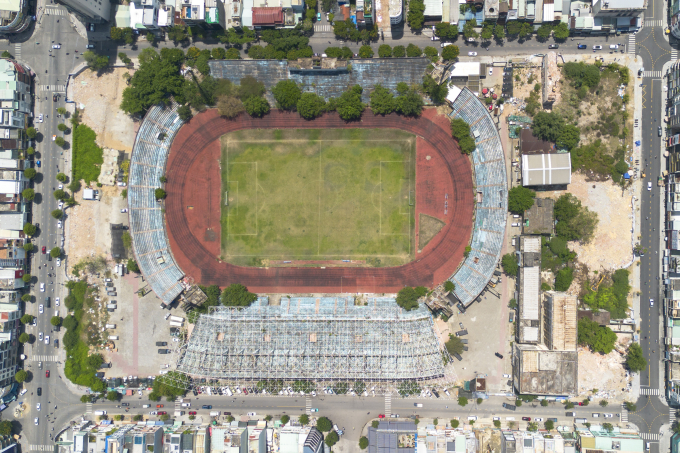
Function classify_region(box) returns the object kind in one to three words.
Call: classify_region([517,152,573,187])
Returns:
building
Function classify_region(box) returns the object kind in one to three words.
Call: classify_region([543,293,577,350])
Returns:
house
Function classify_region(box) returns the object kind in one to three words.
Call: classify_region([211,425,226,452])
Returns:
house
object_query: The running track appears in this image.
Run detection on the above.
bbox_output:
[165,108,475,293]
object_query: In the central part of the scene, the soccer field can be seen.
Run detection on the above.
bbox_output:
[221,128,416,267]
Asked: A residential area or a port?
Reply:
residential area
